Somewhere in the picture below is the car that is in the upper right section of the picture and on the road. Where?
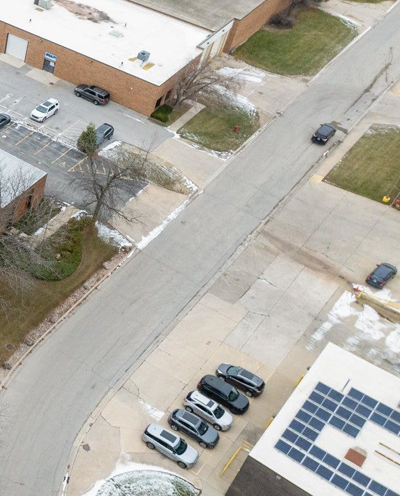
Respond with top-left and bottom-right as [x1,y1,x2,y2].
[310,124,335,145]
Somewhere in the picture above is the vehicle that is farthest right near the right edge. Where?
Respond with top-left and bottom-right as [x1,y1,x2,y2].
[364,260,394,291]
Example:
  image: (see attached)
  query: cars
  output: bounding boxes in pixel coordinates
[0,113,14,130]
[178,386,236,432]
[212,359,269,400]
[29,96,59,122]
[99,121,115,148]
[72,83,111,106]
[310,124,335,145]
[192,368,253,416]
[364,260,394,291]
[142,423,202,471]
[162,403,221,450]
